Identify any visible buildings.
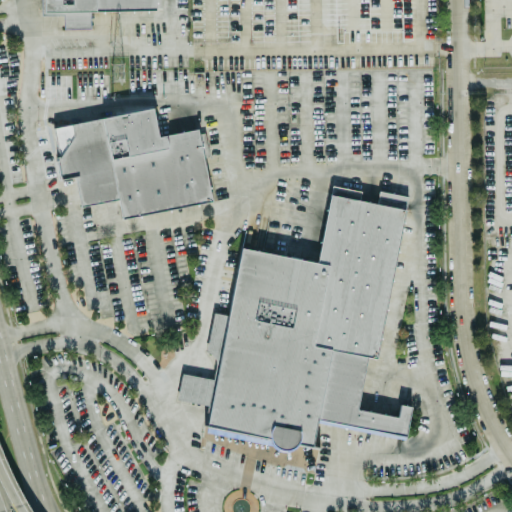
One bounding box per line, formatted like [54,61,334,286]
[57,108,212,220]
[178,187,414,452]
[46,0,157,30]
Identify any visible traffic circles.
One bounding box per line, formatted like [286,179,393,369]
[223,490,260,512]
